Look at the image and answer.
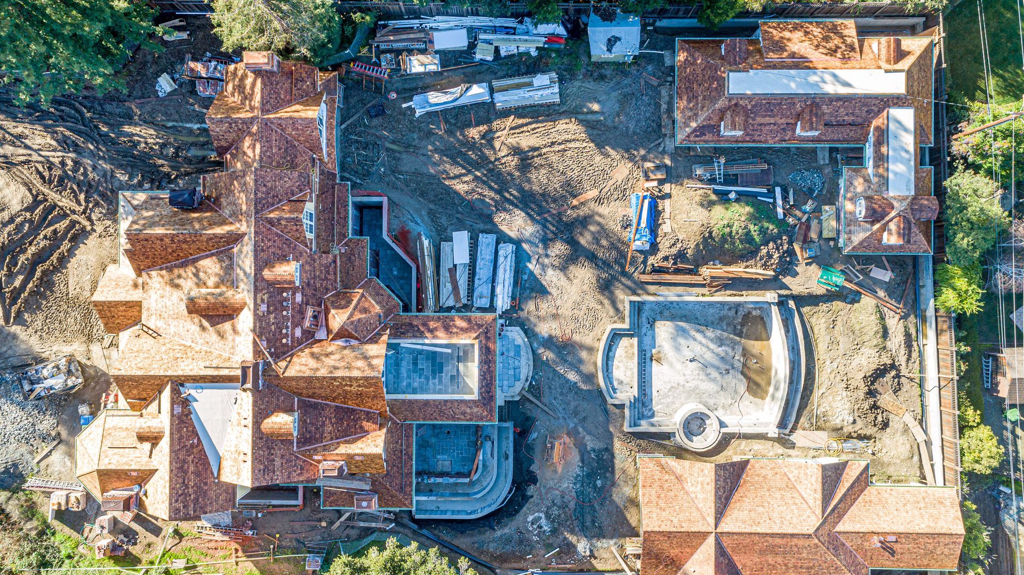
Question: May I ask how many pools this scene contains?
1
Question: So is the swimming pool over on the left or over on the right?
right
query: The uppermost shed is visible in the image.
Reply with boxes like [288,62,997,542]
[588,12,640,69]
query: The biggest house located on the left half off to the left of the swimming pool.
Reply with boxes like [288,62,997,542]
[74,50,499,521]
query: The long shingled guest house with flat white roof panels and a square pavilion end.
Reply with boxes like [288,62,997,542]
[673,19,937,255]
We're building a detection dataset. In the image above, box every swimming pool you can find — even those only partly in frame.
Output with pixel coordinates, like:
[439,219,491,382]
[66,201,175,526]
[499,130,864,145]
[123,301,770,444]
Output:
[598,294,807,452]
